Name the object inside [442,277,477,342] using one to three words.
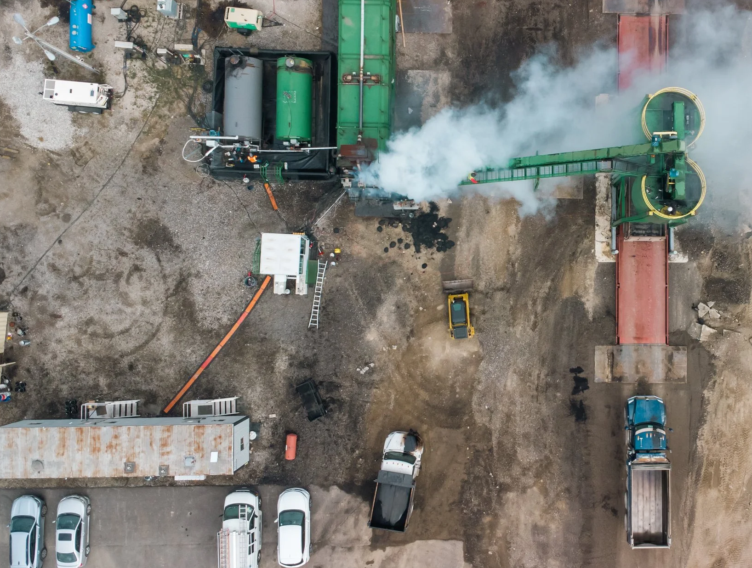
work vehicle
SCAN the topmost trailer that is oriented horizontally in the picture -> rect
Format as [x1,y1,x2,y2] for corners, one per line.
[226,8,288,35]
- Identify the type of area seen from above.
industrial area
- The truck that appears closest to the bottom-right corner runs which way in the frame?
up and down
